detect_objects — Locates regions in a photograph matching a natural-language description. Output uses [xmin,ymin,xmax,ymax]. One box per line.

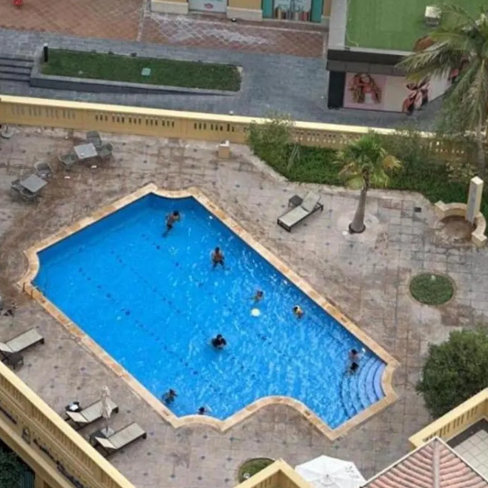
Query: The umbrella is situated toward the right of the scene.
[293,445,369,488]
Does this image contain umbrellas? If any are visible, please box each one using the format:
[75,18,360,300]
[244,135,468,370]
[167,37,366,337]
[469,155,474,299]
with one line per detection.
[97,384,116,435]
[293,445,369,488]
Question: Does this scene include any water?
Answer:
Yes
